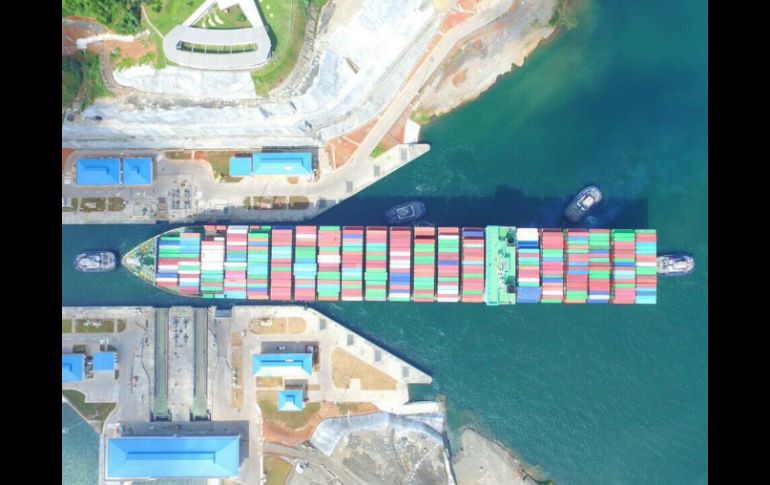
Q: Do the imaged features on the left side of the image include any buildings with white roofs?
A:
Yes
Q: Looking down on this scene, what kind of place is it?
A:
port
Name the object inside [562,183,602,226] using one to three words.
boat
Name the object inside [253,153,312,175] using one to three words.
building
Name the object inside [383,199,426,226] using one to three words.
boat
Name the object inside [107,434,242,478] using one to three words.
building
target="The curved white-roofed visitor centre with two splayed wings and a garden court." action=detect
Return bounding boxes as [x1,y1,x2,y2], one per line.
[162,0,273,73]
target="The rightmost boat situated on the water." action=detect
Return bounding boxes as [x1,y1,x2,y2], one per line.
[656,255,696,276]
